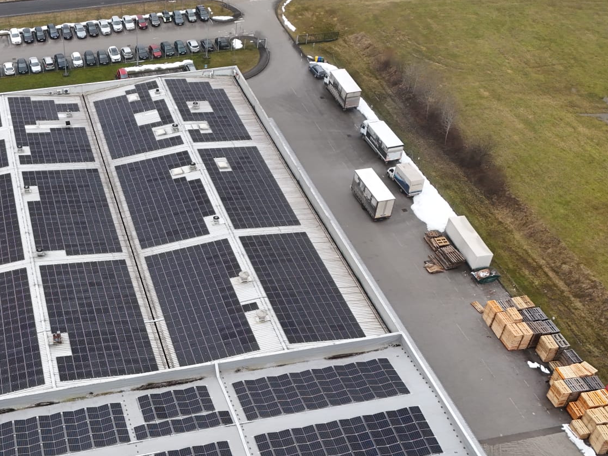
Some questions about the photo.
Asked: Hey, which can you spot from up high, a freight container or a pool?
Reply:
freight container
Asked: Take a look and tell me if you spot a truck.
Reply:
Yes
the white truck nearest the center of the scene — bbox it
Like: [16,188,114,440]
[352,168,396,218]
